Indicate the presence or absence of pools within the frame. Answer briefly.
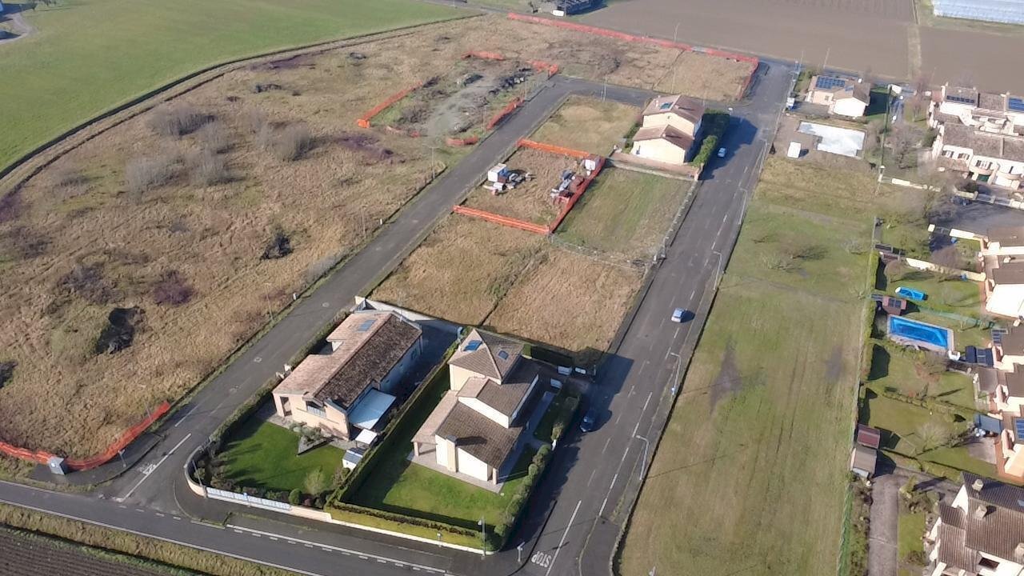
Yes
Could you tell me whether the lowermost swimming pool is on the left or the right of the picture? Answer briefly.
right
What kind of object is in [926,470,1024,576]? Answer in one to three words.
house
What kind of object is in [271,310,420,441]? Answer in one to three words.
house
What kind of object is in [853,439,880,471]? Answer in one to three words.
shed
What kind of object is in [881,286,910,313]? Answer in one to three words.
shed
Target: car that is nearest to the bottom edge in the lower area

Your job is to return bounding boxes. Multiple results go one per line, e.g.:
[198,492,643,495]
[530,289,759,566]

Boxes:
[579,408,597,431]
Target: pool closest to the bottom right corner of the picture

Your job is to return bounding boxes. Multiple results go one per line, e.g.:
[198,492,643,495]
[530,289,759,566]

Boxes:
[882,311,957,356]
